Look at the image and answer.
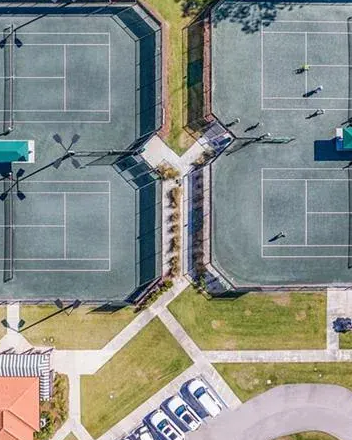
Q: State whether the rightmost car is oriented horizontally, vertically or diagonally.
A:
diagonally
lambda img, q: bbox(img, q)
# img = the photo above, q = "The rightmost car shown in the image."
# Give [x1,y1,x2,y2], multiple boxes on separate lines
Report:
[189,379,223,417]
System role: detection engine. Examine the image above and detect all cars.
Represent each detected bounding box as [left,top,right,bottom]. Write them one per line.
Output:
[168,394,202,433]
[150,408,184,440]
[189,379,223,417]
